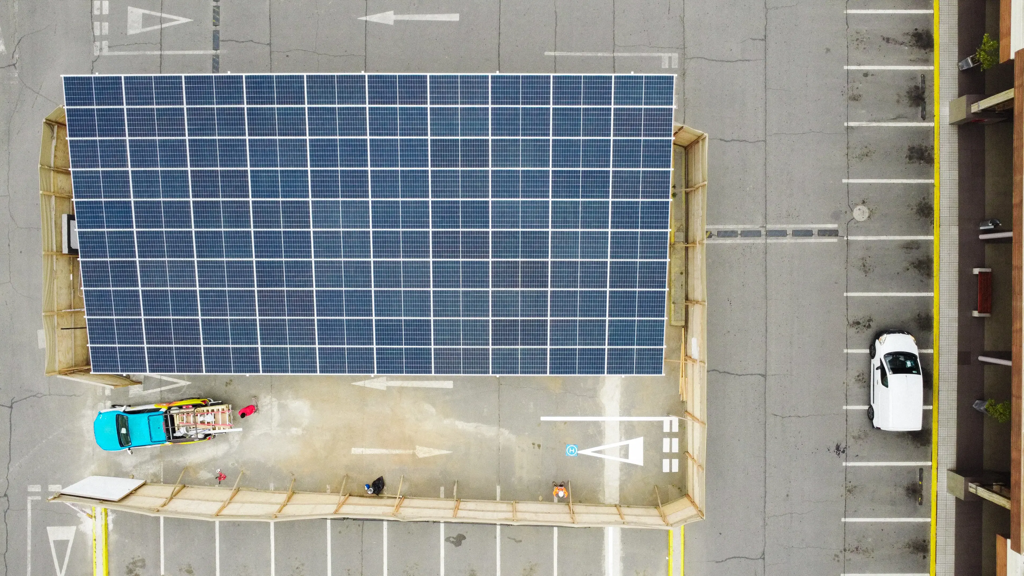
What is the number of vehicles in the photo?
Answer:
two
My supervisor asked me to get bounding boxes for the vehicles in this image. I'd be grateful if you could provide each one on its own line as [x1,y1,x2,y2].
[94,391,227,451]
[865,328,926,435]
